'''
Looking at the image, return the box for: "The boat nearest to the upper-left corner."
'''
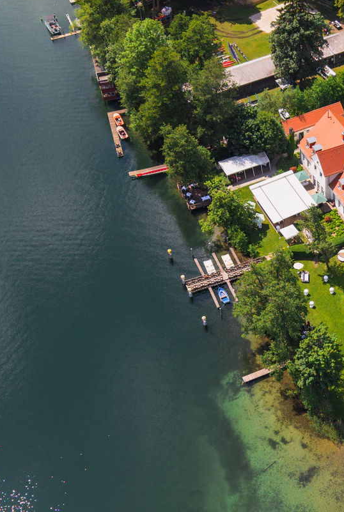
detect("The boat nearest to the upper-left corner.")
[41,12,62,37]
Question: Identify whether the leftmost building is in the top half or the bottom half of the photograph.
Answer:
top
